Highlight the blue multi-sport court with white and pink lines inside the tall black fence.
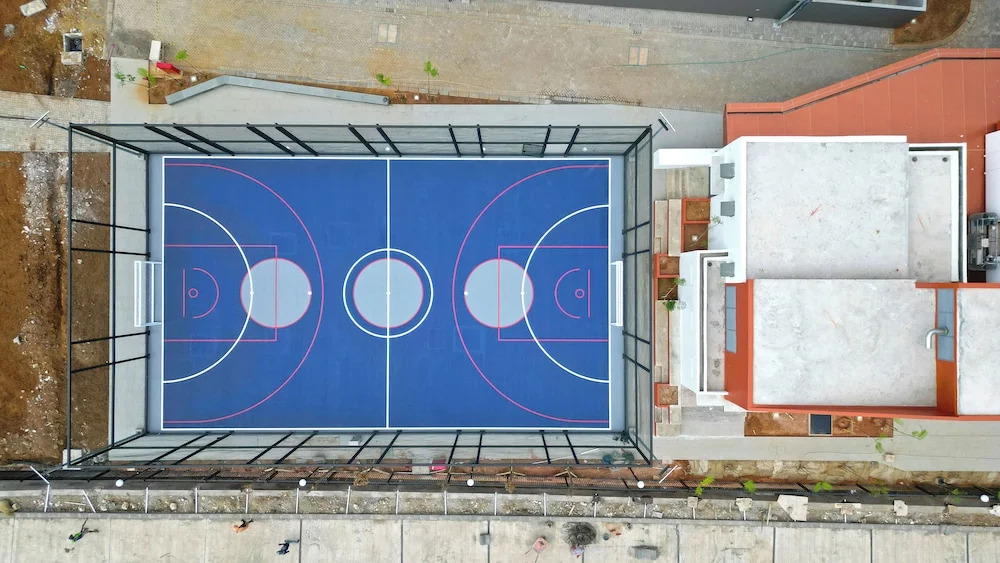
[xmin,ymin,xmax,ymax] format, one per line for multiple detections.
[148,155,623,431]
